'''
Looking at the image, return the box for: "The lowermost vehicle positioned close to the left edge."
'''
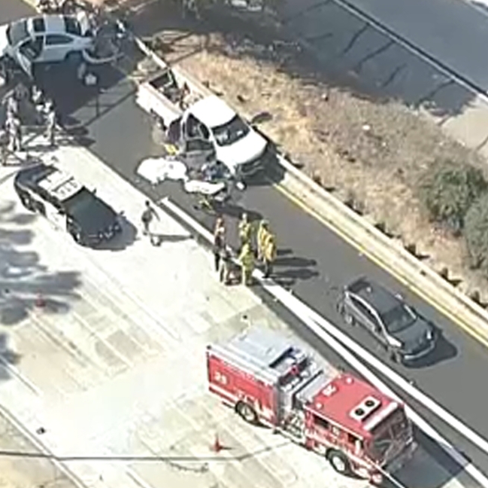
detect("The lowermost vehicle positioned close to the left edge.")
[8,160,128,249]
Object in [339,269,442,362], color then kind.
gray car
